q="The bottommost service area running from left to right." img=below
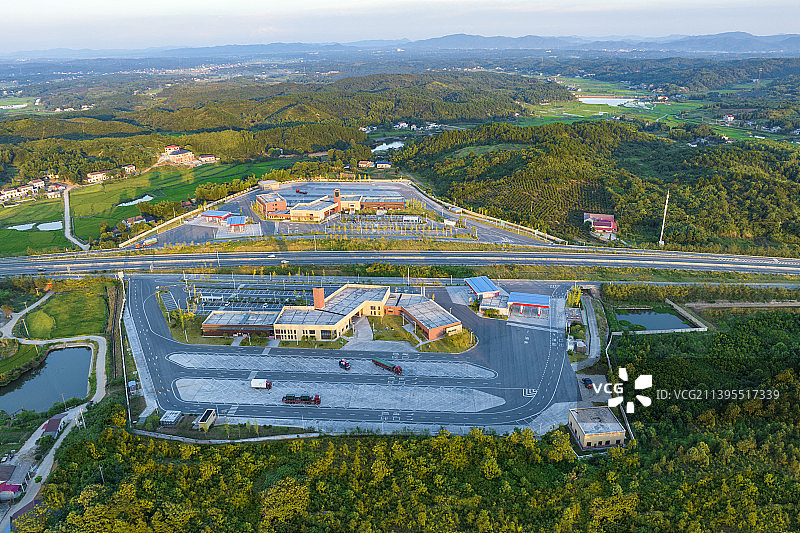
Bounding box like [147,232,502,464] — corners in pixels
[123,281,612,434]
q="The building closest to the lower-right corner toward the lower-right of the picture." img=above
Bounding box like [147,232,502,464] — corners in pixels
[565,407,628,449]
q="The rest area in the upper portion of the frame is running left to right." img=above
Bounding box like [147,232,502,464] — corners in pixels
[134,182,551,243]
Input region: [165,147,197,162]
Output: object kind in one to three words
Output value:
house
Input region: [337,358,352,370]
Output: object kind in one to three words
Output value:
vehicle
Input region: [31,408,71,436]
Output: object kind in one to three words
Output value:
house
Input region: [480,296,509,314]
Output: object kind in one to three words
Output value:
building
